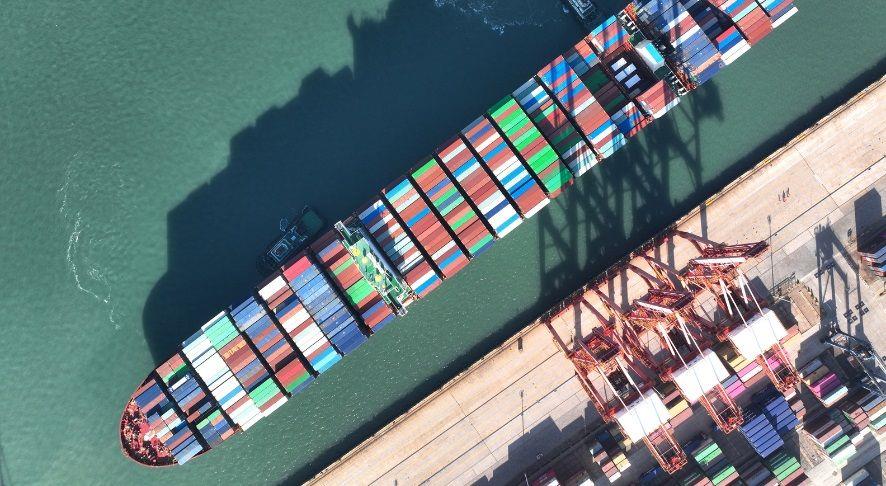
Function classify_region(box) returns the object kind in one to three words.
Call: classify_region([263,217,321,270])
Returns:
boat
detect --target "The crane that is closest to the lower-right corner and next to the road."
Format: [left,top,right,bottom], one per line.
[820,328,886,401]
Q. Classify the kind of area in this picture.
port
